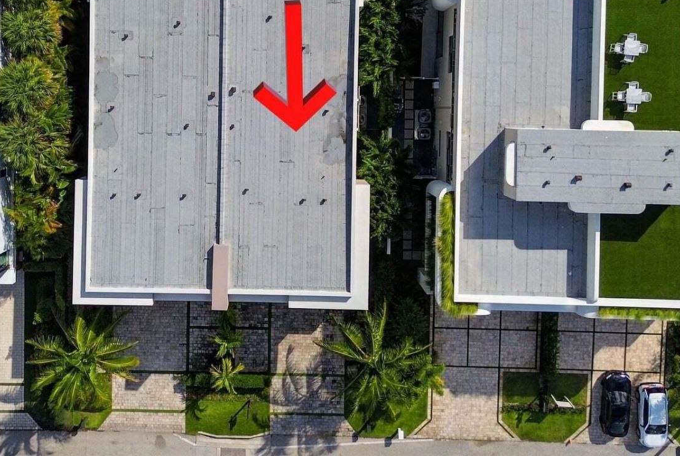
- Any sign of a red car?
No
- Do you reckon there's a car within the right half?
Yes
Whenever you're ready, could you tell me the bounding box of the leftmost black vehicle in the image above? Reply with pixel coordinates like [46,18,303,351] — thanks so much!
[598,368,637,443]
